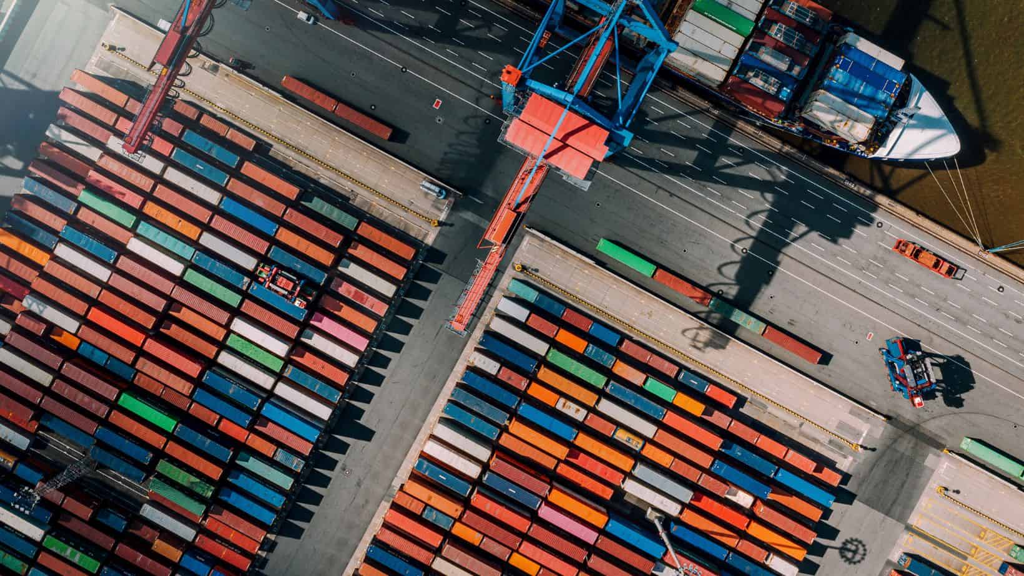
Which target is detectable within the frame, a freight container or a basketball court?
freight container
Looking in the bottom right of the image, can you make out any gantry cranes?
No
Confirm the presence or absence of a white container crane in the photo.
No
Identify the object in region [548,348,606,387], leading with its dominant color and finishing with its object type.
green shipping container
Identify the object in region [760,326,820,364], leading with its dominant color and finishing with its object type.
red shipping container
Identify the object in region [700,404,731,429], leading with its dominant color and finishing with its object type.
red shipping container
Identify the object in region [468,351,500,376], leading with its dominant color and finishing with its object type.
white shipping container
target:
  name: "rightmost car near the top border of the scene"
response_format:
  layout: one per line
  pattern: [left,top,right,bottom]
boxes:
[296,9,318,26]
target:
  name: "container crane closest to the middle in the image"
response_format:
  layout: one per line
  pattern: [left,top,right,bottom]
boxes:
[438,0,688,339]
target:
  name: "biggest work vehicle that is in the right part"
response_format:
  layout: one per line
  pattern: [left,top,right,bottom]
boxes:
[874,342,937,409]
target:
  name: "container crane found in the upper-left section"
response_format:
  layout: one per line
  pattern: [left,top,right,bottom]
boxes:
[109,0,266,167]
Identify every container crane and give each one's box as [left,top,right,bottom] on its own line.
[109,0,266,167]
[438,0,688,339]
